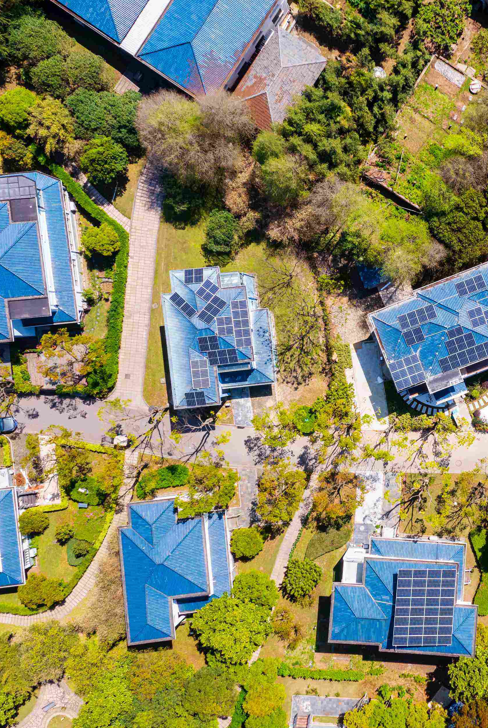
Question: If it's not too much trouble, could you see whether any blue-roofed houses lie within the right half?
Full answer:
Yes, there is a blue-roofed house within the right half.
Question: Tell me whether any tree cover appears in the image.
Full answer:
Yes, there's tree cover in this view.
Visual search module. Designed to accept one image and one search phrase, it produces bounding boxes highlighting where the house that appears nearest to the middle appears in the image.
[158,265,280,410]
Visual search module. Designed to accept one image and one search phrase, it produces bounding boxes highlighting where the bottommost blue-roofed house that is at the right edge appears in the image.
[328,533,479,660]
